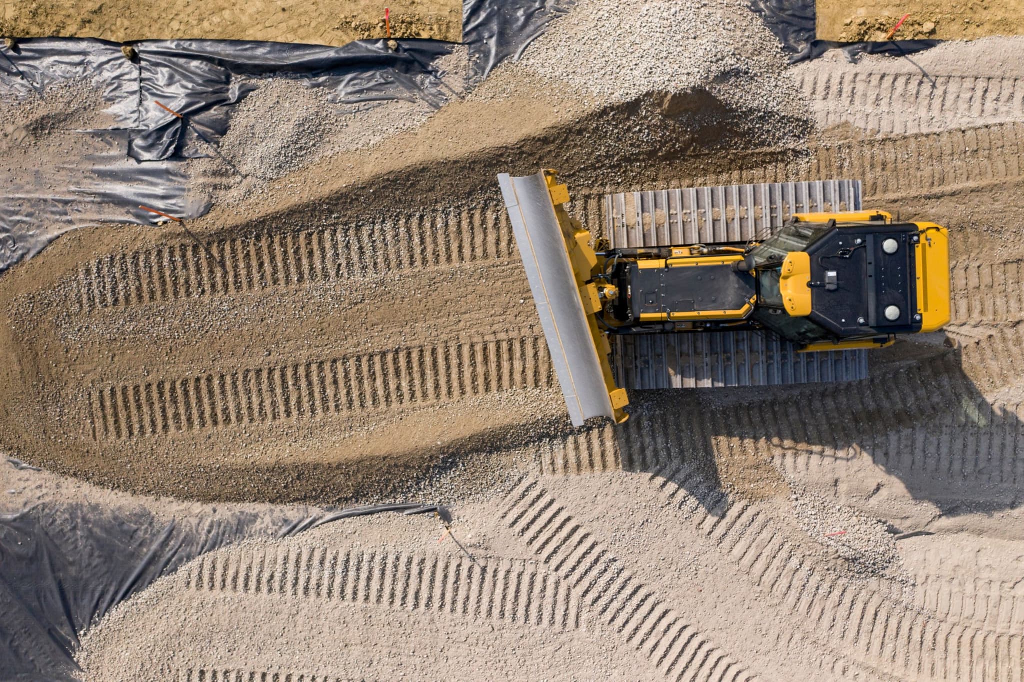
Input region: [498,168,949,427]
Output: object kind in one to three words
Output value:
work vehicle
